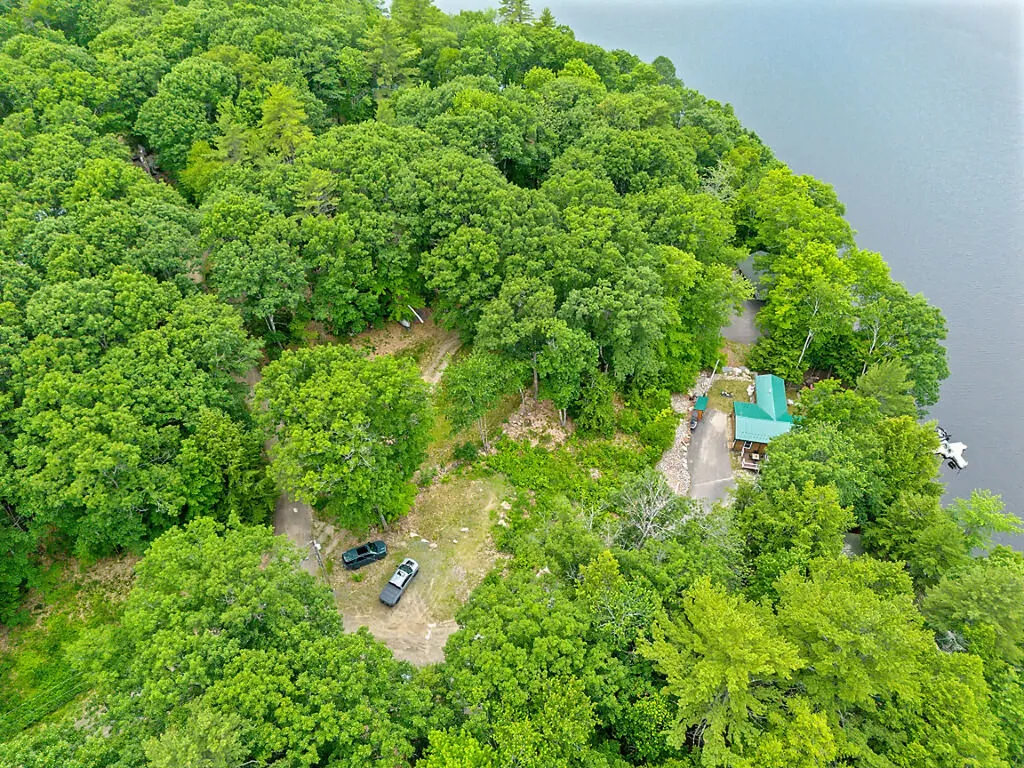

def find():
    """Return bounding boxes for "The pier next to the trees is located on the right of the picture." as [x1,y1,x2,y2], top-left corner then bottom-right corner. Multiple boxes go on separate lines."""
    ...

[926,440,969,471]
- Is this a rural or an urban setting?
rural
